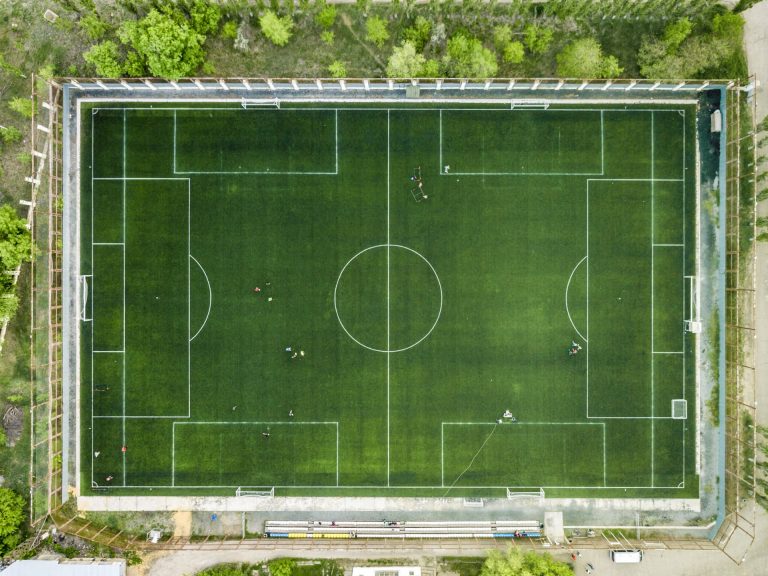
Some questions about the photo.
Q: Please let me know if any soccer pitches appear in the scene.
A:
Yes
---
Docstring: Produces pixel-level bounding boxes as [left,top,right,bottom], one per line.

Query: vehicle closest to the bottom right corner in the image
[608,546,639,562]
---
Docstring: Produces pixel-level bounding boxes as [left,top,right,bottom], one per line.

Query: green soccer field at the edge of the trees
[80,103,700,497]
